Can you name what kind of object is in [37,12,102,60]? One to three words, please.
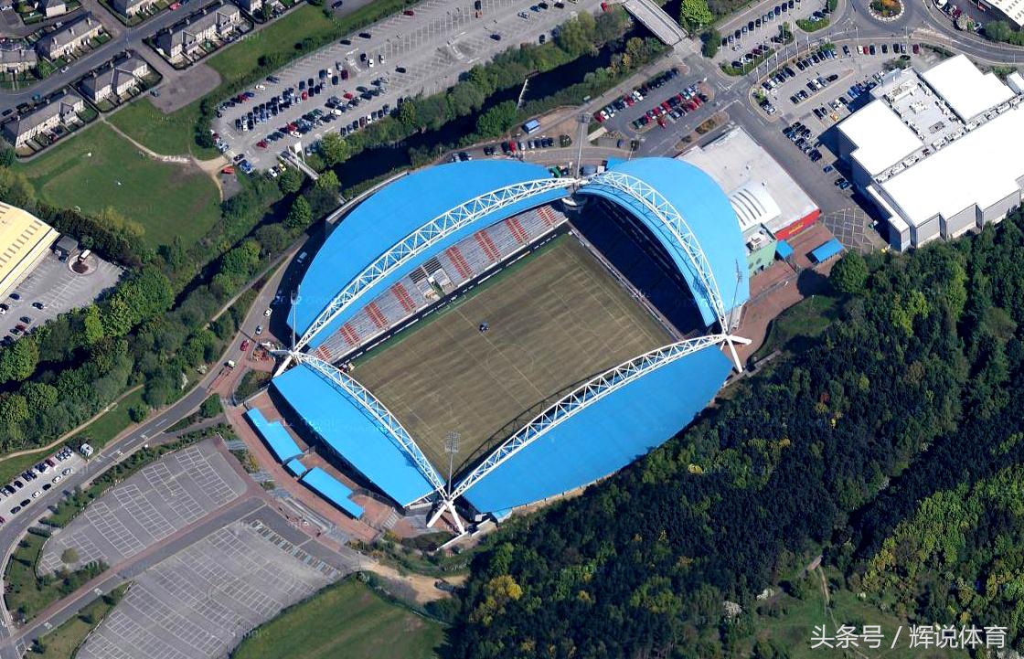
house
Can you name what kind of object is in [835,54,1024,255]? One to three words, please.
warehouse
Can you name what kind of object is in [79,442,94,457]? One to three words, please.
camper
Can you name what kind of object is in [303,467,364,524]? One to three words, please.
building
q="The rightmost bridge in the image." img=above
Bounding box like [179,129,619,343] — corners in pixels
[621,0,688,46]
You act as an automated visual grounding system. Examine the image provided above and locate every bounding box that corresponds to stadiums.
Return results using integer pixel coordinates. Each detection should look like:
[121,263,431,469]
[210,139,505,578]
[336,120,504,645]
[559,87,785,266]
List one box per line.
[271,157,749,536]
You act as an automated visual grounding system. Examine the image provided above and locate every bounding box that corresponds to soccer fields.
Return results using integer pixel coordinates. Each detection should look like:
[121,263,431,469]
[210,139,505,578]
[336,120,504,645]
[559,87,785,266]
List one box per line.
[327,224,688,499]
